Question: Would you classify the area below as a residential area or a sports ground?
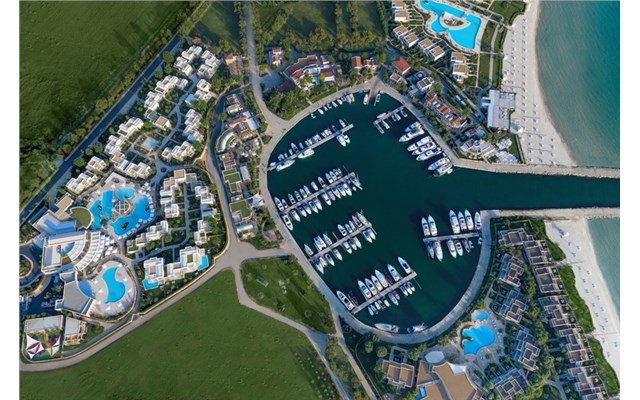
residential area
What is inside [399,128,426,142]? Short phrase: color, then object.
white boat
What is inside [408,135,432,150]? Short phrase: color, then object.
white boat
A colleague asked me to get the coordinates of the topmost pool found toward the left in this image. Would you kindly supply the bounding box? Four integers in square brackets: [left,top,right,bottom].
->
[139,137,158,153]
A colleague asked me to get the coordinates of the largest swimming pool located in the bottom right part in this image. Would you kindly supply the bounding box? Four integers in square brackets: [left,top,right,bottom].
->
[456,305,506,366]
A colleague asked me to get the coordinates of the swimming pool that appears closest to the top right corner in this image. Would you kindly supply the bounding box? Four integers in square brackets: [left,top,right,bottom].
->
[416,0,486,54]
